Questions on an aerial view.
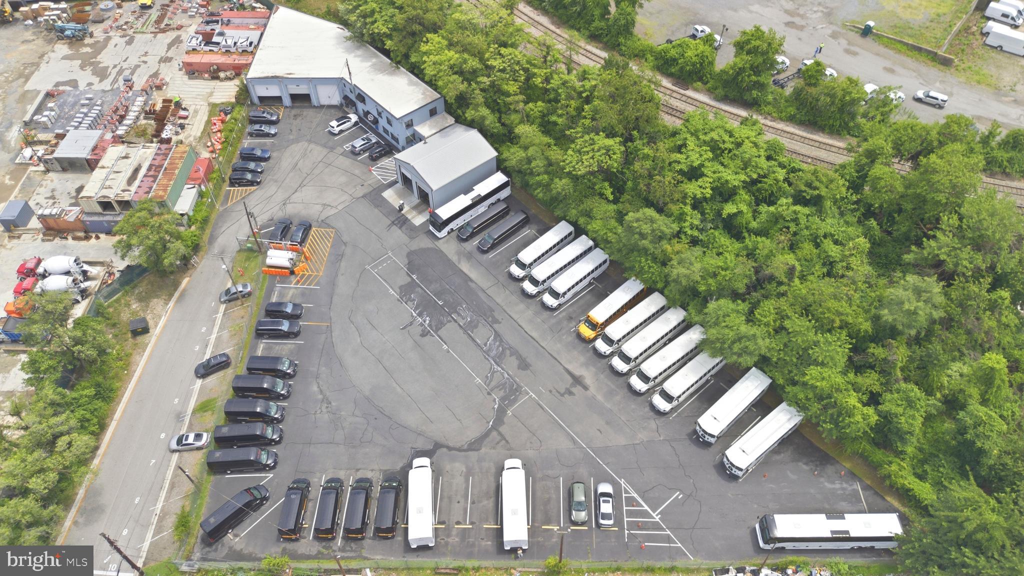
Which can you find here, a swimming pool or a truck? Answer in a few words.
truck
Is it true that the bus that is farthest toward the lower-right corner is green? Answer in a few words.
No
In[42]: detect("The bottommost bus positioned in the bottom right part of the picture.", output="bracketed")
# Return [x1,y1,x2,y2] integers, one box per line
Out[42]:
[755,509,901,552]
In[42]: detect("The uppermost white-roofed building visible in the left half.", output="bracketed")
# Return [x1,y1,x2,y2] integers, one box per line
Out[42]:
[246,4,461,148]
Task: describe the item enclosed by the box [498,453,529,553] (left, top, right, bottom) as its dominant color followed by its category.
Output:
white bus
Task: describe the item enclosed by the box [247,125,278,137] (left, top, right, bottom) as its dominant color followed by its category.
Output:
gray vehicle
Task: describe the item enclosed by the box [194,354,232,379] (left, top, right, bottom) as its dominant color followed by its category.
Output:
gray car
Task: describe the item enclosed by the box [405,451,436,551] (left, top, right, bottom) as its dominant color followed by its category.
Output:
white bus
